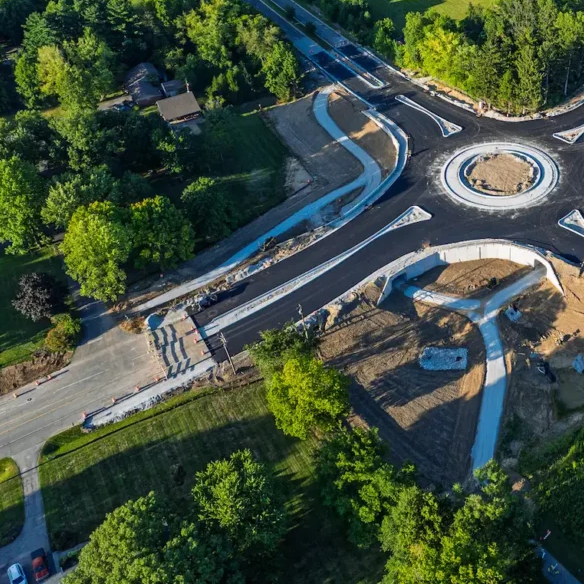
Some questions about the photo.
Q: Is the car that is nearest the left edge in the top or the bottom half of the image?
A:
bottom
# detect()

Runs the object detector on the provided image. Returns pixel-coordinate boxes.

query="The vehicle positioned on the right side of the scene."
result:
[533,357,557,381]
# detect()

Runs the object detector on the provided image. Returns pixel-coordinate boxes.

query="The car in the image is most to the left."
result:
[3,554,26,584]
